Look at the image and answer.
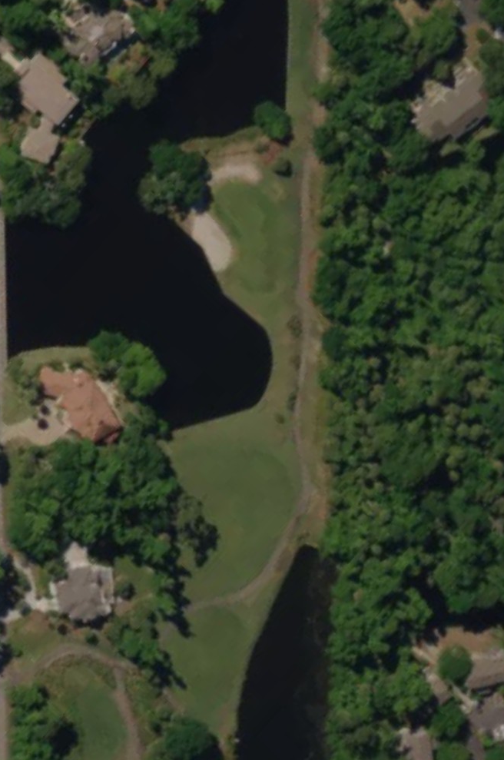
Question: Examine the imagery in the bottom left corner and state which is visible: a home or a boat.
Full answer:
You can see a home in the bottom left corner.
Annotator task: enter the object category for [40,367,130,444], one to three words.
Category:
house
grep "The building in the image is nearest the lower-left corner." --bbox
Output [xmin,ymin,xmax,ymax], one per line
[58,567,107,621]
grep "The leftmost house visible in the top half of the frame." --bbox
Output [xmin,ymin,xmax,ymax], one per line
[14,55,83,164]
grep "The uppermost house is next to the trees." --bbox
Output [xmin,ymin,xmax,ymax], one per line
[67,7,134,66]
